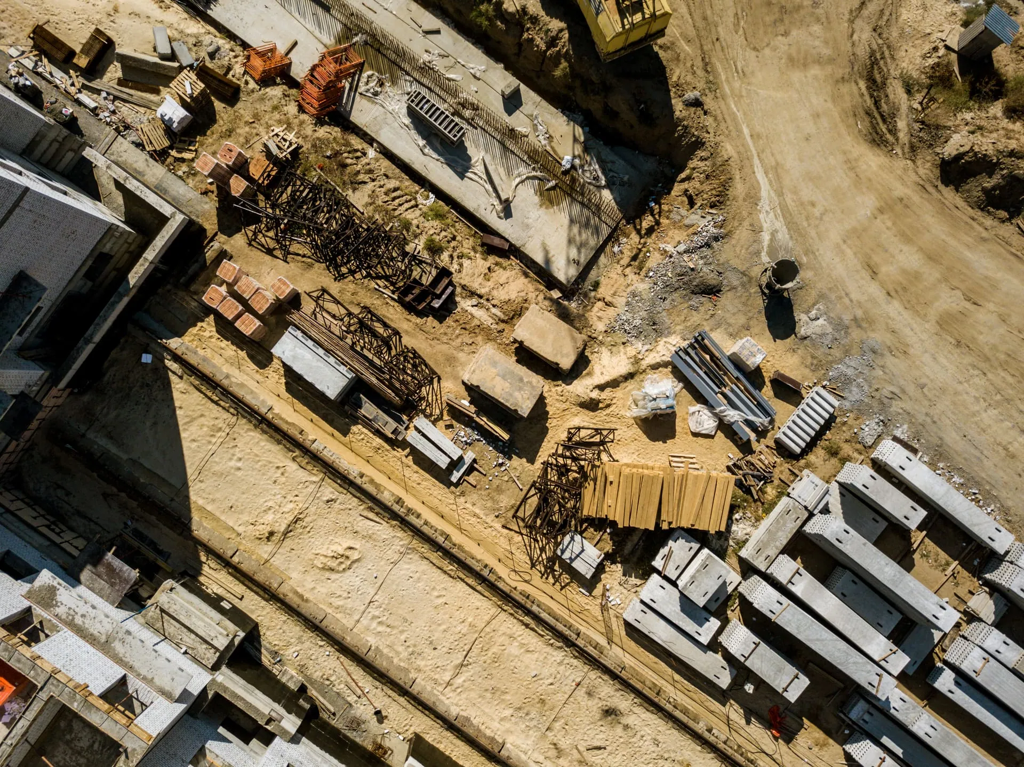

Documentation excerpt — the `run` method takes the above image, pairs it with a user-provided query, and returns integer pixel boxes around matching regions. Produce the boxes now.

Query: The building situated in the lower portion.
[0,477,393,767]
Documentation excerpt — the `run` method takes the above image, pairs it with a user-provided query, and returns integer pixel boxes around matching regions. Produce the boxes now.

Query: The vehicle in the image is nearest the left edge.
[556,0,673,65]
